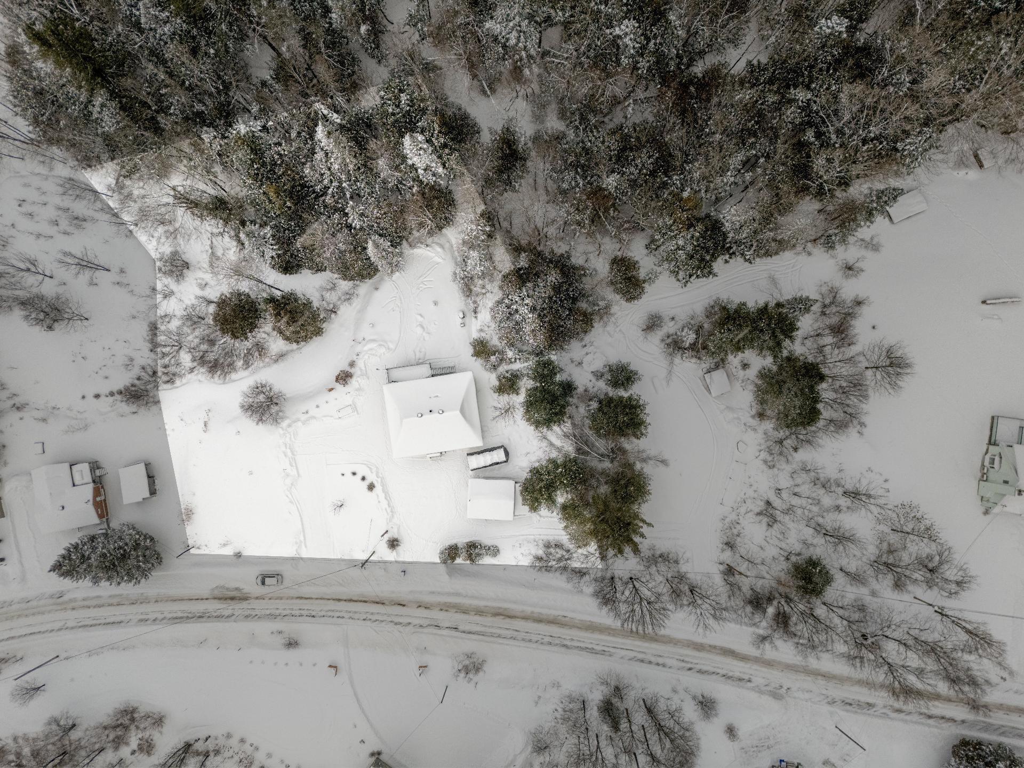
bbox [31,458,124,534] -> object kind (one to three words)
house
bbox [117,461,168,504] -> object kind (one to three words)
shed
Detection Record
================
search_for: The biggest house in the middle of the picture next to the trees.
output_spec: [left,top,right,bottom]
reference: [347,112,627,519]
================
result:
[384,362,483,458]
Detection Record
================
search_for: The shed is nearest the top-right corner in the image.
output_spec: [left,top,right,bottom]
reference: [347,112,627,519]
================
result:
[884,190,927,225]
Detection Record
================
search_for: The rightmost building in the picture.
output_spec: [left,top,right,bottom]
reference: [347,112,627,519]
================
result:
[970,416,1024,516]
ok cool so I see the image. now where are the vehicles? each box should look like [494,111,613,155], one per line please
[255,574,281,587]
